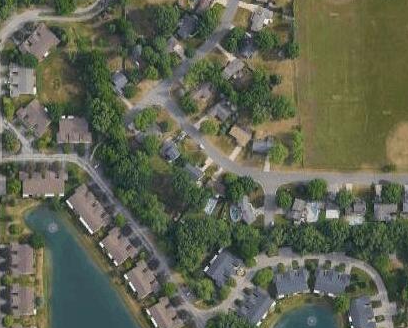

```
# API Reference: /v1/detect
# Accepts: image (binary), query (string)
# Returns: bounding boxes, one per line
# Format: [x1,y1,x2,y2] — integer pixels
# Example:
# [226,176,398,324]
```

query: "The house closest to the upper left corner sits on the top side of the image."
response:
[20,22,60,62]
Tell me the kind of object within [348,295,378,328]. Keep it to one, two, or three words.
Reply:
house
